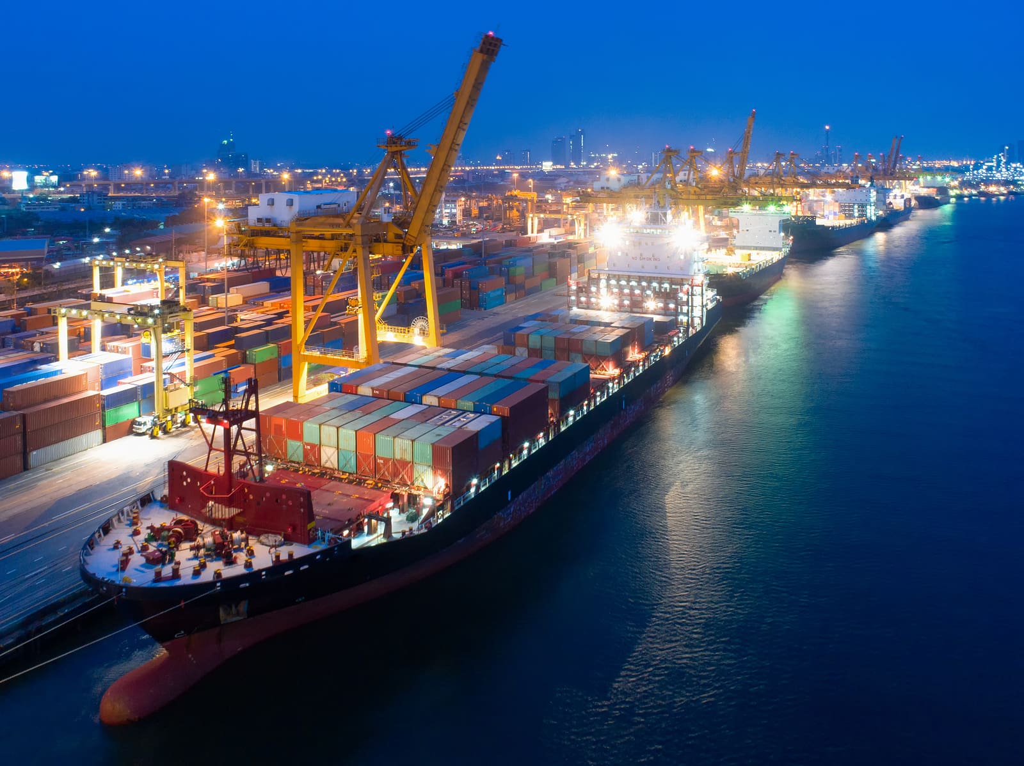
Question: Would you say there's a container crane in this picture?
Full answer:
Yes, a container crane is visible in the scene.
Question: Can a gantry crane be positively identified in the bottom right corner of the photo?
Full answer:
No, there is no gantry crane in the bottom right corner of the photo.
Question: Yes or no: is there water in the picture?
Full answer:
Yes, water shows up in the scene.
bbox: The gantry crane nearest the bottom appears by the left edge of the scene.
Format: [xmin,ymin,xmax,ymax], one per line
[49,292,213,441]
